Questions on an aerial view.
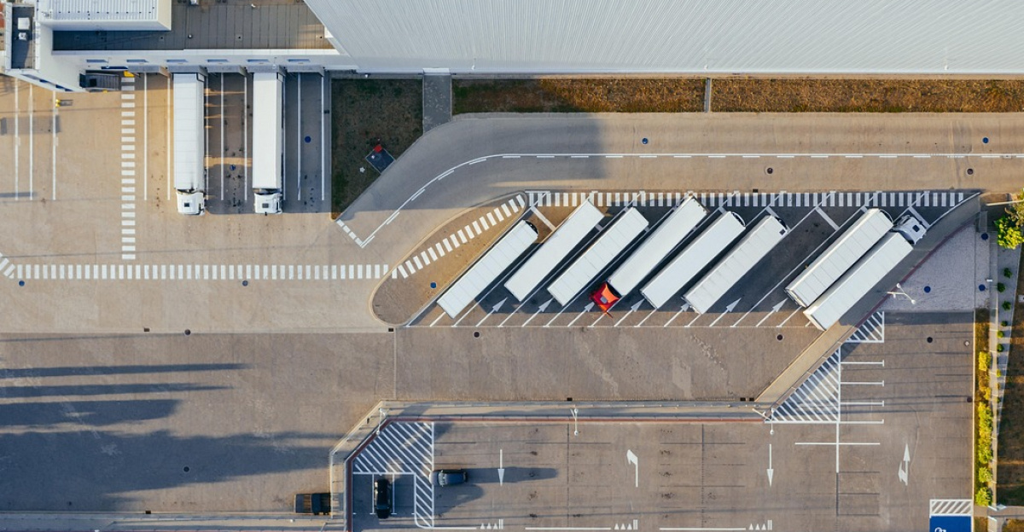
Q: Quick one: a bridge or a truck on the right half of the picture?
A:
truck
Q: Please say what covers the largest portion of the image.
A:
paved ground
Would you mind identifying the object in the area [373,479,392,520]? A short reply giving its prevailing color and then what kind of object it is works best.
black car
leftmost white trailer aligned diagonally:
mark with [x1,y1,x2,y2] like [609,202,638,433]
[438,219,540,318]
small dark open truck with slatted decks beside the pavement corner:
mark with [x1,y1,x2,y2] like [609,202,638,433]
[293,494,329,518]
